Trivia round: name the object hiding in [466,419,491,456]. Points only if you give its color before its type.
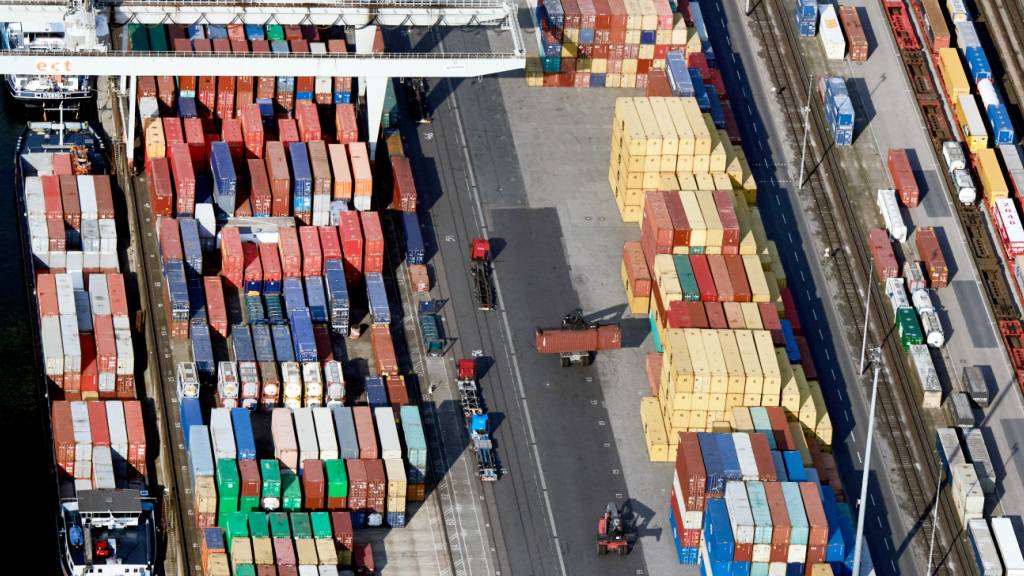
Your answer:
blue truck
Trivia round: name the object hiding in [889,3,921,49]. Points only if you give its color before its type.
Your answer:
red rail car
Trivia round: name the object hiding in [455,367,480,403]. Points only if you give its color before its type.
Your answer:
red truck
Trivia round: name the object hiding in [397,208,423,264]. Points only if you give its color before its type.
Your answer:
blue shipping container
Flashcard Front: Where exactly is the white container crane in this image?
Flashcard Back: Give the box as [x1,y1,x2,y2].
[0,0,528,167]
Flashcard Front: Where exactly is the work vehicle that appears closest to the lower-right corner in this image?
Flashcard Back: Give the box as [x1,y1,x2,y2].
[593,491,632,557]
